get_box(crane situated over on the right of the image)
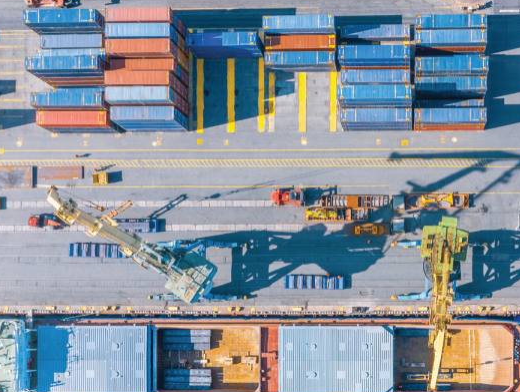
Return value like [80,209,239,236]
[389,211,491,392]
